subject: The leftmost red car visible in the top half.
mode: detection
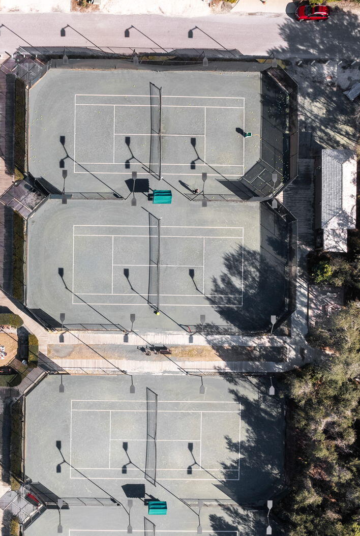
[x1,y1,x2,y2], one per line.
[295,3,329,22]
